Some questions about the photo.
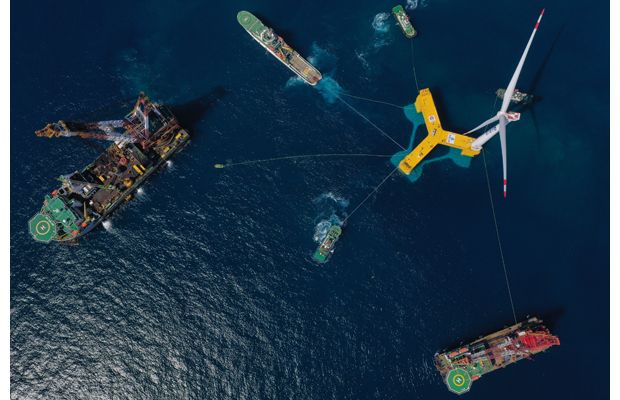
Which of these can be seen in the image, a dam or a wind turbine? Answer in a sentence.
The one in the frame is a wind turbine.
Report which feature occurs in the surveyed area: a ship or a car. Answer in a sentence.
The one in the frame is a ship.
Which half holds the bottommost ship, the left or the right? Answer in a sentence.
The bottommost ship appears in the right half of the scene.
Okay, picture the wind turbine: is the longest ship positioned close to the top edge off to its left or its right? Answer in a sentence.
In the image, the longest ship positioned close to the top edge sits on the left side of the wind turbine.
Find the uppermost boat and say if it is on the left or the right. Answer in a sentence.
It is on the right.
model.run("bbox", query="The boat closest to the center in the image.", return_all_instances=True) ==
[314,223,342,263]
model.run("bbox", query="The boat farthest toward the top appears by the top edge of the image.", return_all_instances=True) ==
[393,6,417,42]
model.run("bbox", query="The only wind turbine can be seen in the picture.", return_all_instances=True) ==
[390,10,542,195]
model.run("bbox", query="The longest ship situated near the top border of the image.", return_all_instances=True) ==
[233,11,323,91]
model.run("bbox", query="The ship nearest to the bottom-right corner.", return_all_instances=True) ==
[437,313,563,394]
